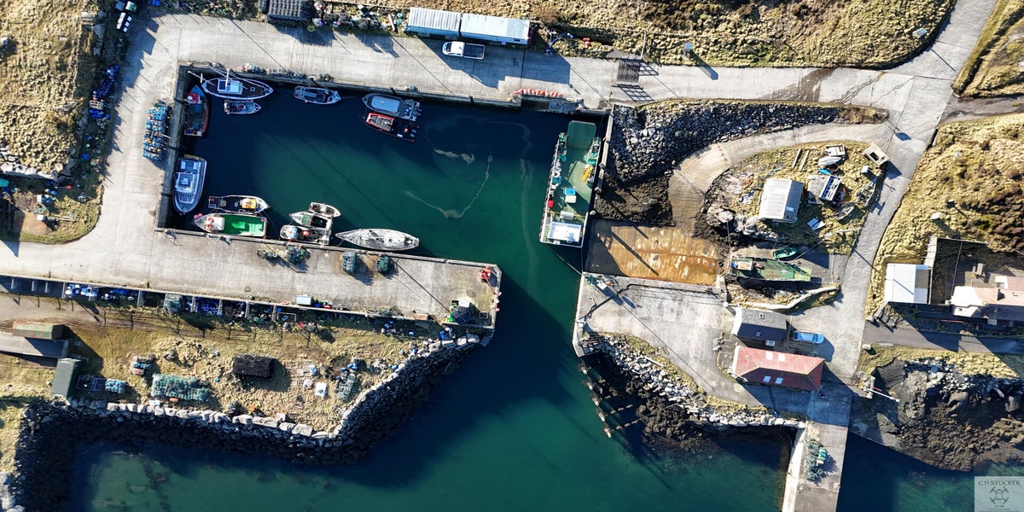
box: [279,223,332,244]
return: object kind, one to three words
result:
boat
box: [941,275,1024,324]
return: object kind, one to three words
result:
house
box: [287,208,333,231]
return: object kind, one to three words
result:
boat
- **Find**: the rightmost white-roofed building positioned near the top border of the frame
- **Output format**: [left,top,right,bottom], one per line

[461,13,531,45]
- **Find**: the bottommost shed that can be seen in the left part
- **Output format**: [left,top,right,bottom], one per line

[51,358,86,398]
